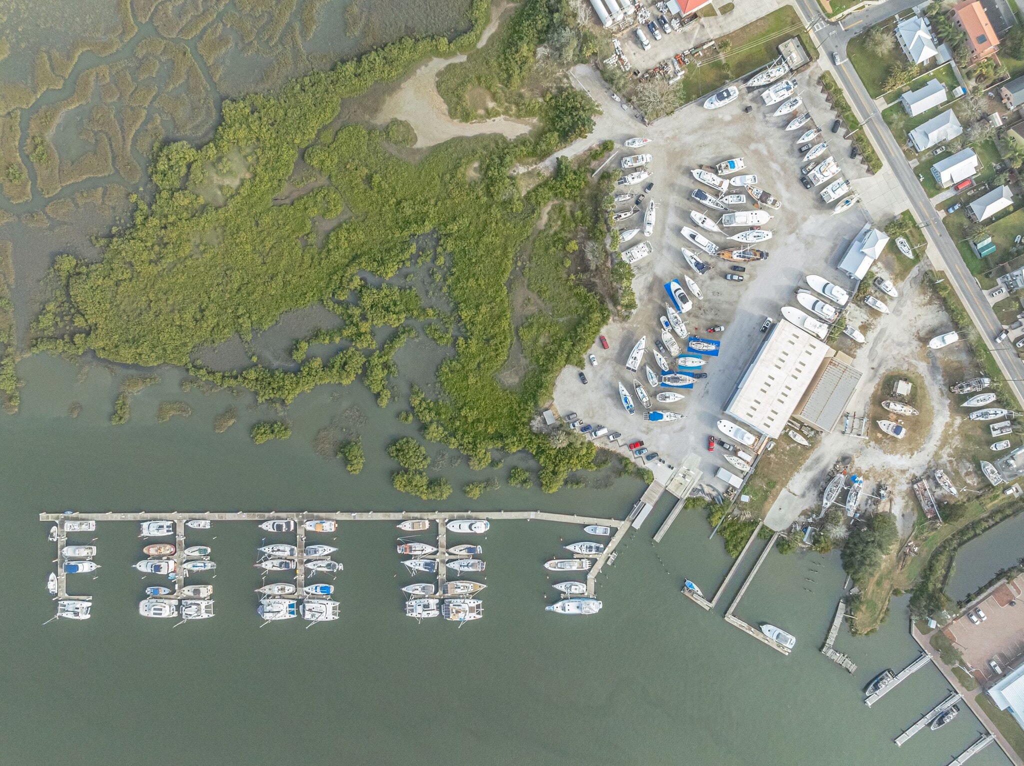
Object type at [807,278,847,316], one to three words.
boat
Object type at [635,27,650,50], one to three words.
vehicle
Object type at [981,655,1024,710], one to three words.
building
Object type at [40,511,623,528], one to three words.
pier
